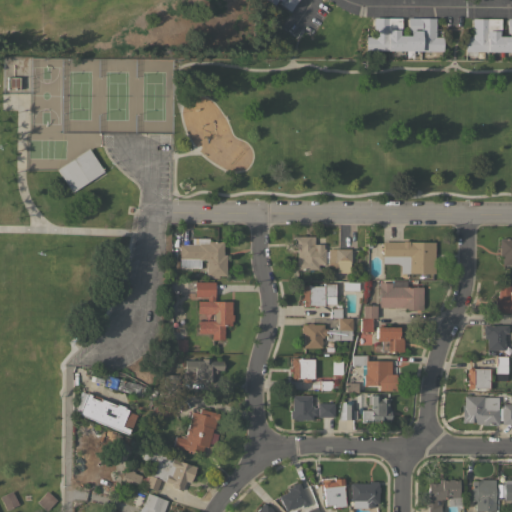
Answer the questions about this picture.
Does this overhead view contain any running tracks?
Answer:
No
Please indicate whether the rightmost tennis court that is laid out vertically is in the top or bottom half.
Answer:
top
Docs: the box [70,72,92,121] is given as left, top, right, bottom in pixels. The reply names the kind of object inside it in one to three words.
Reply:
tennis court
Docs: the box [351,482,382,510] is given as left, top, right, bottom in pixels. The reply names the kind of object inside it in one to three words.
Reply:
house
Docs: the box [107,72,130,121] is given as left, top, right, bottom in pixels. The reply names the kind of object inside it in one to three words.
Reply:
tennis court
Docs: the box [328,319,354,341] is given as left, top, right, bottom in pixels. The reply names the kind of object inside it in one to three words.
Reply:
building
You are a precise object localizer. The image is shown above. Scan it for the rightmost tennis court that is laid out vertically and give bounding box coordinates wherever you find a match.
[144,72,166,121]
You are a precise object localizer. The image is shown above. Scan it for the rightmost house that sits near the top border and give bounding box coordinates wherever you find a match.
[468,18,512,52]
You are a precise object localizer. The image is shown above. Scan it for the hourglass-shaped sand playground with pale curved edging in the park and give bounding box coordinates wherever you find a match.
[184,99,254,171]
